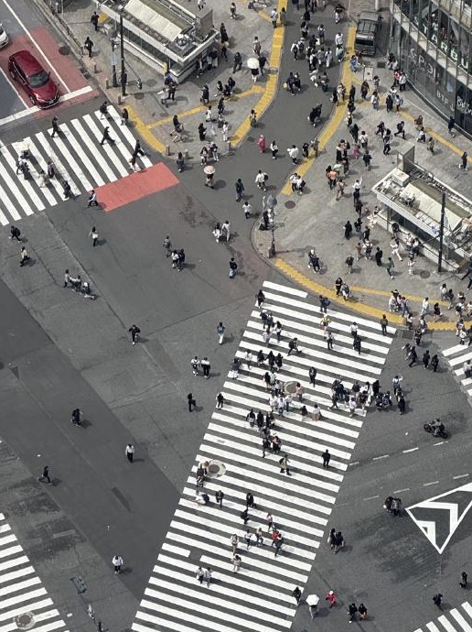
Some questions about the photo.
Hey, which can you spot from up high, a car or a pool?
car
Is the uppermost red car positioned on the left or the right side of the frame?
left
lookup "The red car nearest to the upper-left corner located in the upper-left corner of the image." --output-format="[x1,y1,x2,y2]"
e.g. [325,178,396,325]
[7,49,57,107]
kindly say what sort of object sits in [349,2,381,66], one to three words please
van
